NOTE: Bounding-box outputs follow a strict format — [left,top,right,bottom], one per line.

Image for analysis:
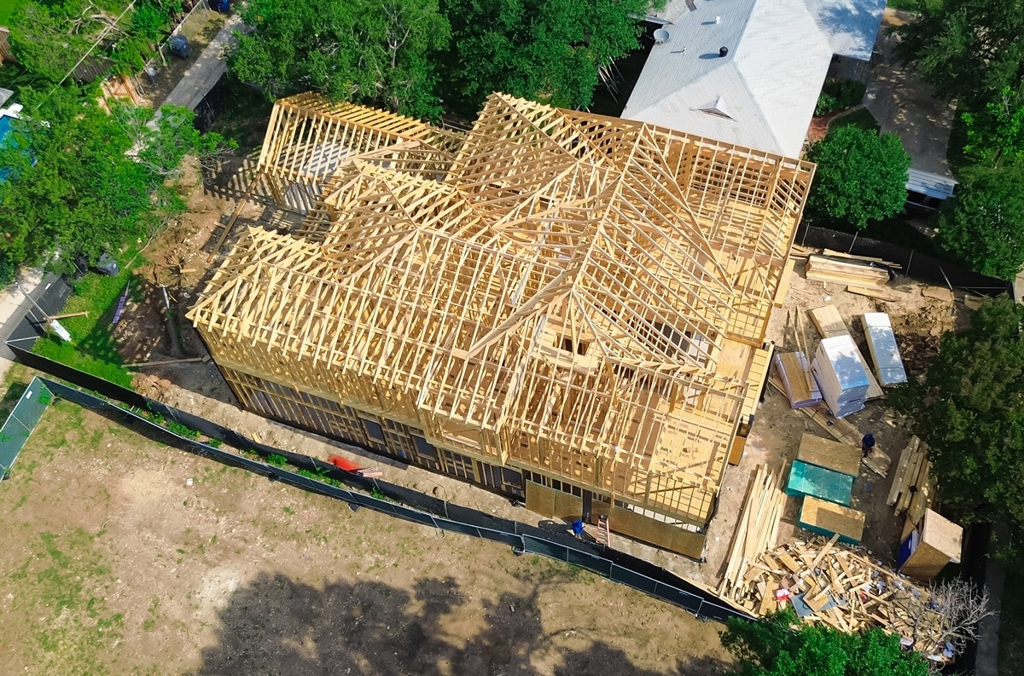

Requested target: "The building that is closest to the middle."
[185,87,819,566]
